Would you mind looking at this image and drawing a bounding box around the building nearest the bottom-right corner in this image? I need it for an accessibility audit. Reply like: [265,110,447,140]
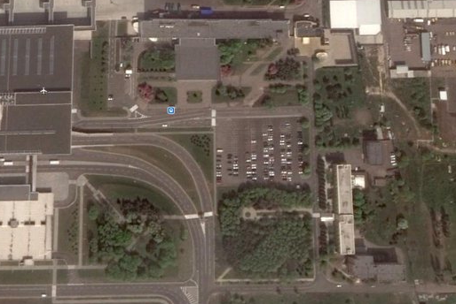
[346,239,405,283]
